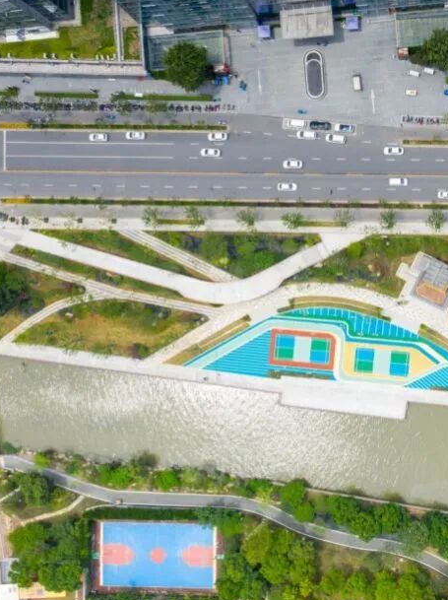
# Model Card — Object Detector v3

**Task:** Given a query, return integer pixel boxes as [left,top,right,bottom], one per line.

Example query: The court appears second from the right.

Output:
[268,329,336,370]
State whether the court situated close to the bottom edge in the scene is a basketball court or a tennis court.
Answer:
basketball court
